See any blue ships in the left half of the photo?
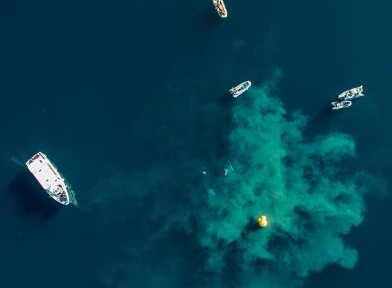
No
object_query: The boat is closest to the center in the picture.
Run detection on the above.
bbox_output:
[228,81,251,96]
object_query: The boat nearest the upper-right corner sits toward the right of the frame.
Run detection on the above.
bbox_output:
[338,82,366,98]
